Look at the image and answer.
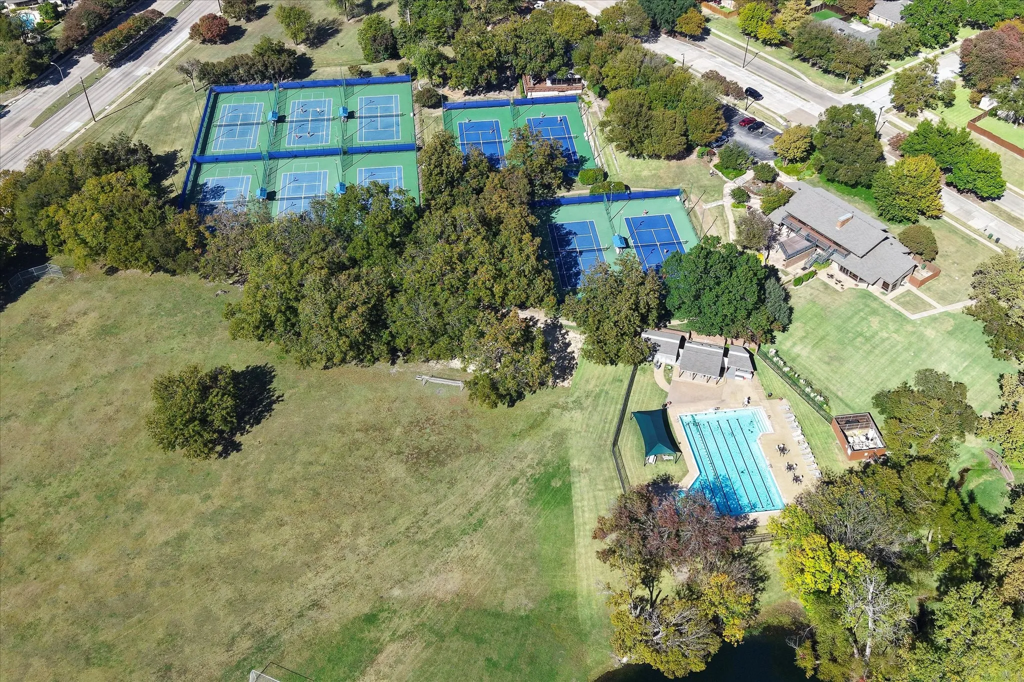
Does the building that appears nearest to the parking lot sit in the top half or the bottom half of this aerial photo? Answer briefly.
top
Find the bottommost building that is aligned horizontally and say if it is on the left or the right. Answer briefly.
right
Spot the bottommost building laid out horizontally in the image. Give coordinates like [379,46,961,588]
[644,330,756,385]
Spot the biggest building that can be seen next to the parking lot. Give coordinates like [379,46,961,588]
[767,182,917,293]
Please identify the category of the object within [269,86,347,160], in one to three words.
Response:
tennis court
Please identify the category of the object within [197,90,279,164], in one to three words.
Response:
tennis court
